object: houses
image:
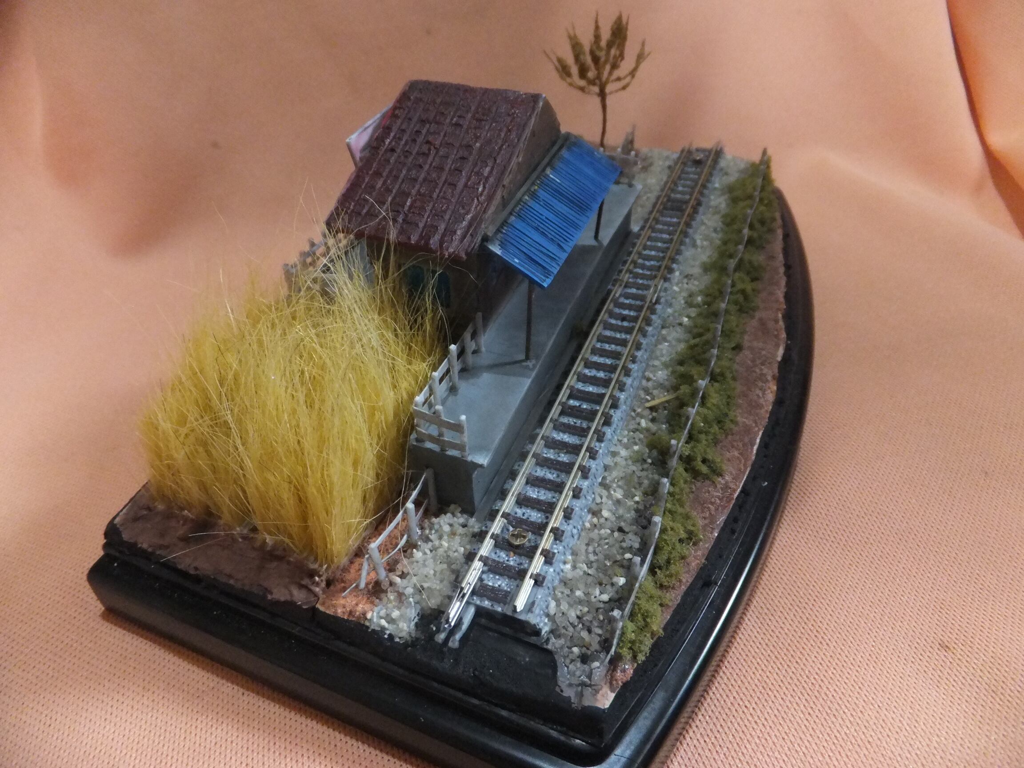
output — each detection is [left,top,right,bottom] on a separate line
[318,81,620,373]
